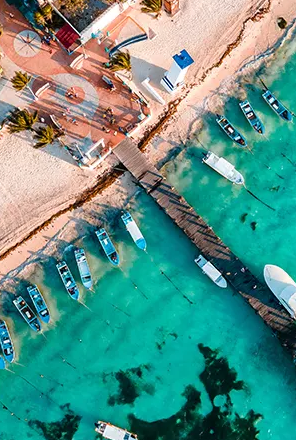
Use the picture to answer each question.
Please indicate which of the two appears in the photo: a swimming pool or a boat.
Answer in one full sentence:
It is a boat that can be seen here.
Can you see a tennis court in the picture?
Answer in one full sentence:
No, there appears to be no tennis court in this shot.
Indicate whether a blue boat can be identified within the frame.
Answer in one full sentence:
Yes, you can see a blue boat in this photo.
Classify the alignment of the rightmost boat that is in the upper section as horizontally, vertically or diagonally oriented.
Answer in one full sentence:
The rightmost boat that is in the upper section runs diagonally in the image.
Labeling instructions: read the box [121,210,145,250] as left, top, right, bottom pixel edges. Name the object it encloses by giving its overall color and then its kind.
white boat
